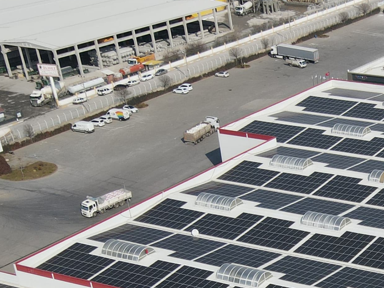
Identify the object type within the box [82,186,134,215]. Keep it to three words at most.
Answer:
truck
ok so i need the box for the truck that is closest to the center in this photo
[183,115,225,144]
